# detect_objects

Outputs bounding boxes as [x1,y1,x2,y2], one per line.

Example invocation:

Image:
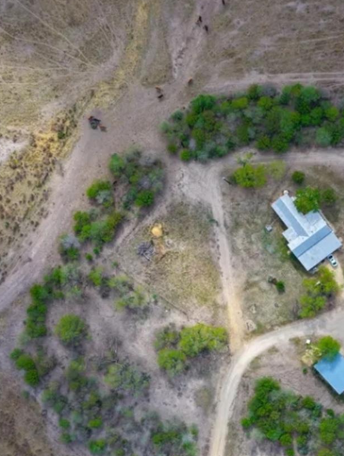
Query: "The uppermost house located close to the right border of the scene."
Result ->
[272,195,343,273]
